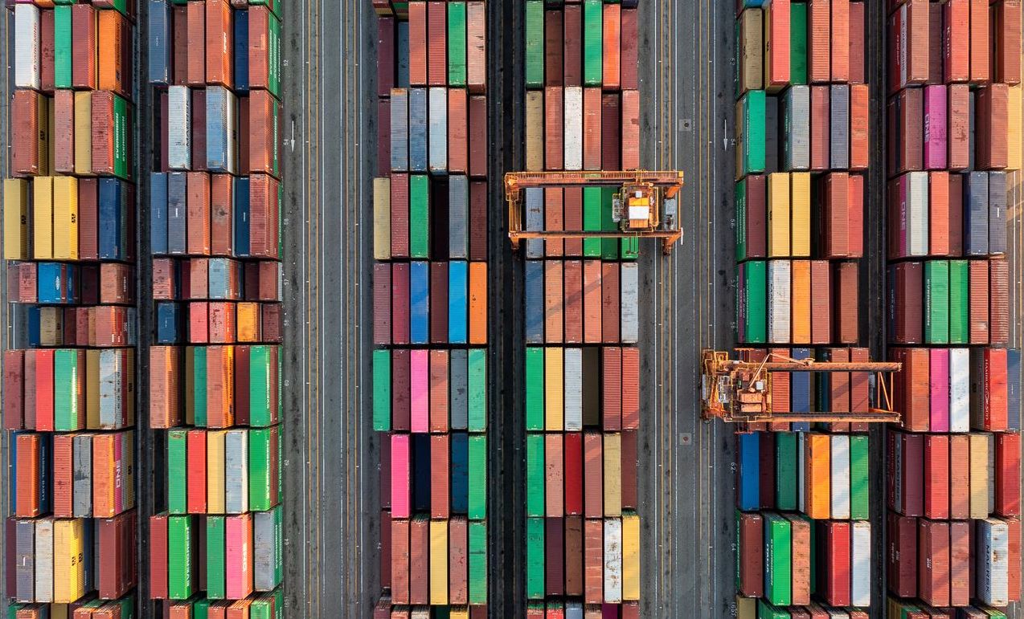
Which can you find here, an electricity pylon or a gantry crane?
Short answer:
gantry crane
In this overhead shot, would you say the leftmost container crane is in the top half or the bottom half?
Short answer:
top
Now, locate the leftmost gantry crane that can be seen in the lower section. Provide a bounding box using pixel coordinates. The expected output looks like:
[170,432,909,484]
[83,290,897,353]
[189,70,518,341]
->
[698,346,905,432]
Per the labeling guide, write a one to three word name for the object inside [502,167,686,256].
container crane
